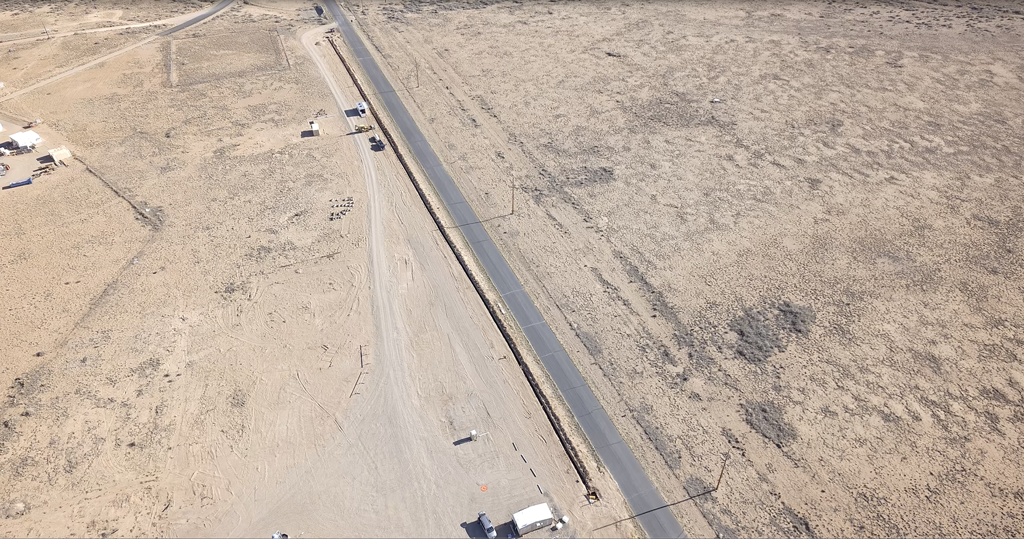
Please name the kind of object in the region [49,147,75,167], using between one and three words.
shed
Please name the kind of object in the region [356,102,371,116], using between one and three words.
camper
